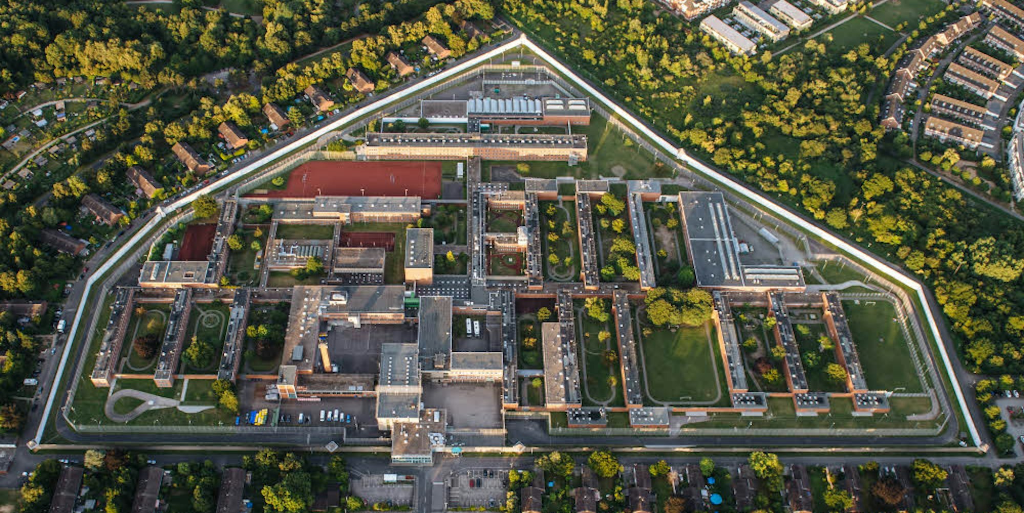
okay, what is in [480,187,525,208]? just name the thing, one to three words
building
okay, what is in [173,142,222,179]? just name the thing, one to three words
house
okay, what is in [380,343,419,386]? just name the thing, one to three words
building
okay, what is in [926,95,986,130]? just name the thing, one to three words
house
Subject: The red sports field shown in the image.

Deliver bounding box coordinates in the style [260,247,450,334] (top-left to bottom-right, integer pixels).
[243,161,441,198]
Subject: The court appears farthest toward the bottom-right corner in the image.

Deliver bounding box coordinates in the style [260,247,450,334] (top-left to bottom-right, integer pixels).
[517,298,556,313]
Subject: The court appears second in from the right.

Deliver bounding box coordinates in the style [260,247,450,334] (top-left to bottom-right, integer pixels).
[340,232,395,250]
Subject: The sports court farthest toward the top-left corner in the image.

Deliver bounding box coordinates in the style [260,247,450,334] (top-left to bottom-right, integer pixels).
[177,223,217,259]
